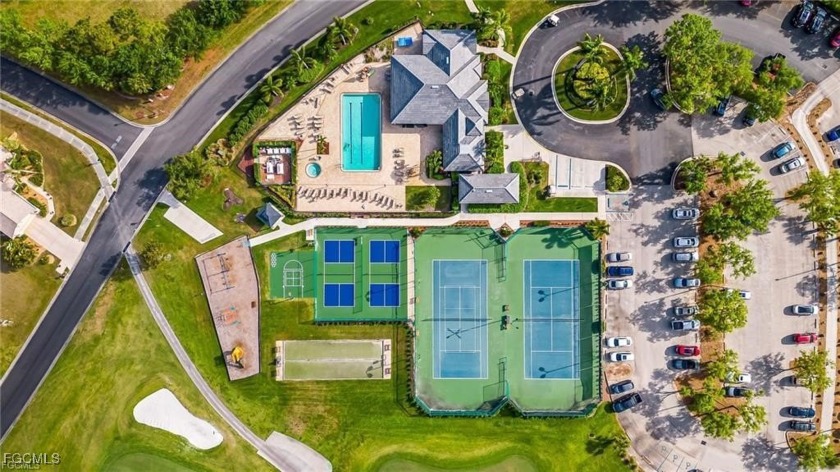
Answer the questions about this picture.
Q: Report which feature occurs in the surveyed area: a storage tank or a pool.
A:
pool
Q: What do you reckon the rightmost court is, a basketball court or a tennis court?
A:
tennis court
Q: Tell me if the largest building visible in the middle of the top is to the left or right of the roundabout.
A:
left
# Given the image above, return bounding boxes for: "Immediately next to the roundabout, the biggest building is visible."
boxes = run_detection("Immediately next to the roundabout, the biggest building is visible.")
[391,30,491,172]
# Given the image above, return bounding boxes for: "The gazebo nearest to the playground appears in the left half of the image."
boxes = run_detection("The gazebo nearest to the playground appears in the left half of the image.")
[253,202,281,229]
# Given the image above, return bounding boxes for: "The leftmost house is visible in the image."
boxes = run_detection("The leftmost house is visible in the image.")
[0,152,48,240]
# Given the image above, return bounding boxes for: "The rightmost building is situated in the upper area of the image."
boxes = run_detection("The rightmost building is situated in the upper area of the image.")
[459,174,519,204]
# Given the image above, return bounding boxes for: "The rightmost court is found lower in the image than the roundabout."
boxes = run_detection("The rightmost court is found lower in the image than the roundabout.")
[505,229,600,410]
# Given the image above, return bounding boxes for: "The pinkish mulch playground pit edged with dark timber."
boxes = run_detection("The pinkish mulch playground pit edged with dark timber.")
[194,236,260,381]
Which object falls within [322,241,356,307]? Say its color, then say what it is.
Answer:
blue sports court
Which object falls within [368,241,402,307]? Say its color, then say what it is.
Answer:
blue sports court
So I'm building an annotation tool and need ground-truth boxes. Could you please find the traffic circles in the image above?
[509,0,658,187]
